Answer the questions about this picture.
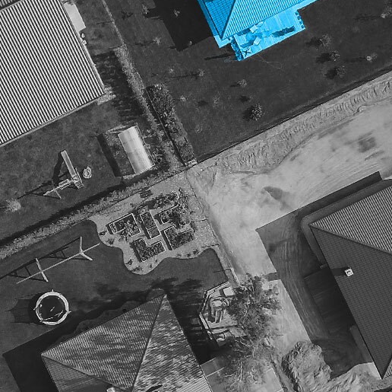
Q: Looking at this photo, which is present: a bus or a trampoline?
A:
trampoline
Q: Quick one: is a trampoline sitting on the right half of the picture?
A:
No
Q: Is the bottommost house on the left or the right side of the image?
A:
left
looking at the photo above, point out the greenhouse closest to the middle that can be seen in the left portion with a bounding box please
[118,126,154,175]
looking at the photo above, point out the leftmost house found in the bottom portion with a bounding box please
[38,295,209,392]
